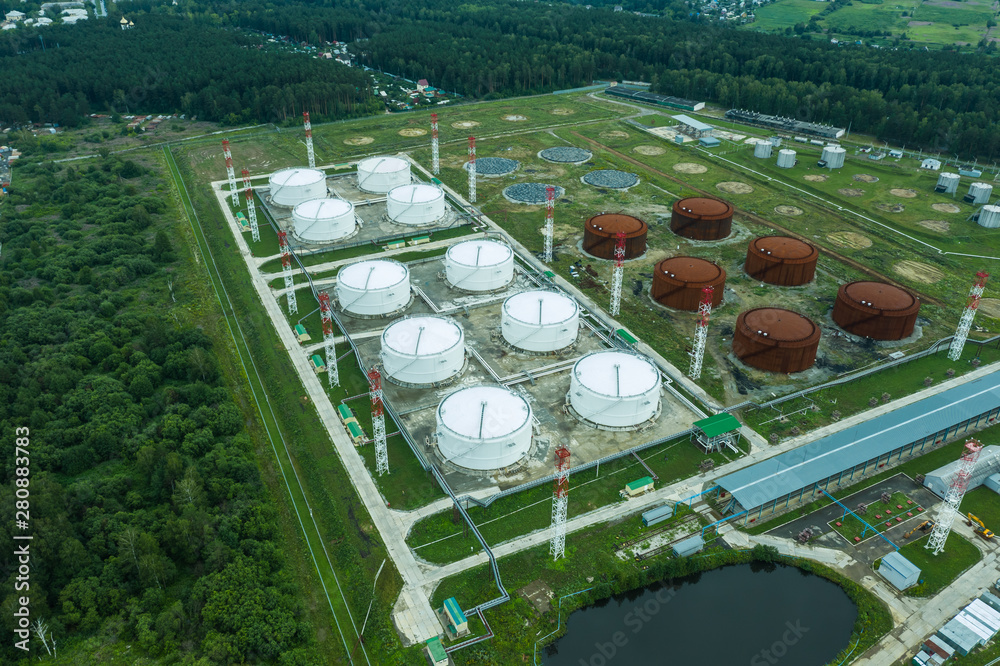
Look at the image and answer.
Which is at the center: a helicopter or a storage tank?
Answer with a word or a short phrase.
storage tank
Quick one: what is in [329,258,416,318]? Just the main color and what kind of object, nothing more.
white storage tank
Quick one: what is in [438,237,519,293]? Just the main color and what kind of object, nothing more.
white storage tank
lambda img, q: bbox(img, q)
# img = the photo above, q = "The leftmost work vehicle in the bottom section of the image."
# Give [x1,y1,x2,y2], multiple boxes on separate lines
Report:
[907,519,937,536]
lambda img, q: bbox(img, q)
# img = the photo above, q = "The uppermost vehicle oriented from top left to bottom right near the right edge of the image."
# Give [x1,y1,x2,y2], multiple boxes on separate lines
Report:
[966,515,998,542]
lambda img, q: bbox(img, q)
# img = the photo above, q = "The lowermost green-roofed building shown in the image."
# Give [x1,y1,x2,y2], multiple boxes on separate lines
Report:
[421,638,456,666]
